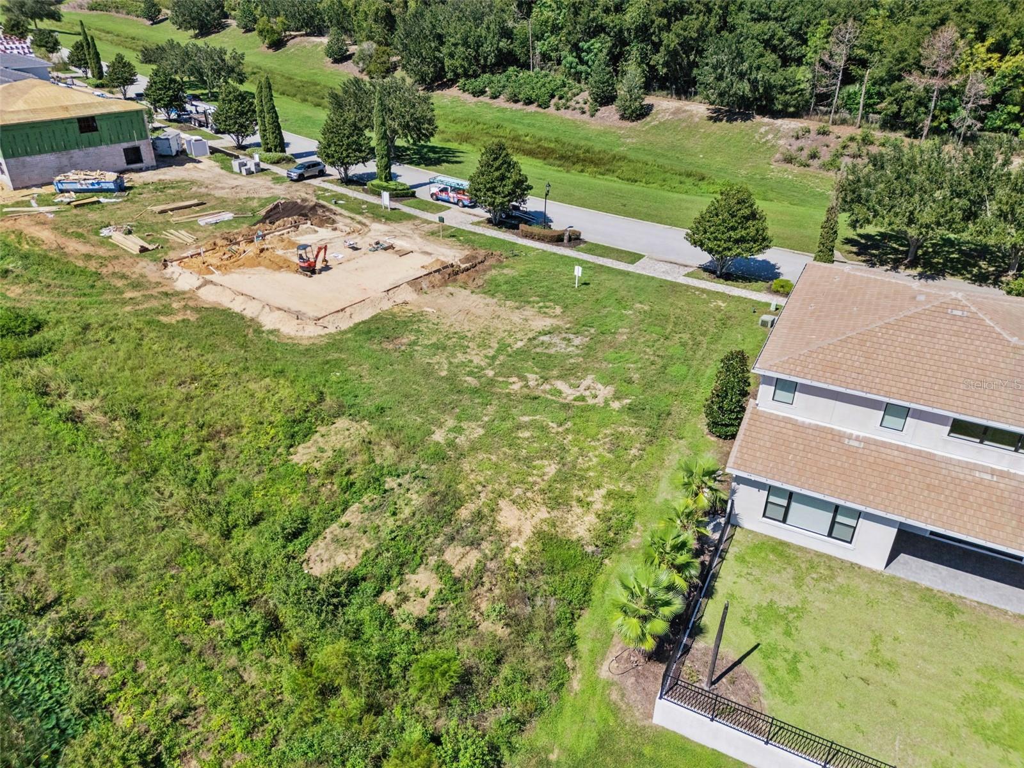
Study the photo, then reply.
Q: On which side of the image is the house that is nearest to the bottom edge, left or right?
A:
right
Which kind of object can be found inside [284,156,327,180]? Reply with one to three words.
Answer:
car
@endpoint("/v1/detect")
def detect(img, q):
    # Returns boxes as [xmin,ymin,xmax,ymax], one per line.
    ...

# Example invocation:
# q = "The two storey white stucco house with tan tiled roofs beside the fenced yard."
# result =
[724,263,1024,571]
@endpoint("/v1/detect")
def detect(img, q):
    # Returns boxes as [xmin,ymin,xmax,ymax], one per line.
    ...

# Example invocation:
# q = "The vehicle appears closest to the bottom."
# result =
[294,236,333,276]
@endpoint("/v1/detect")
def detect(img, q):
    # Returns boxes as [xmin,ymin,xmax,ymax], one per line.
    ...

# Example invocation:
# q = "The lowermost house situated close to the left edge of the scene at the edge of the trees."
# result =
[0,78,155,189]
